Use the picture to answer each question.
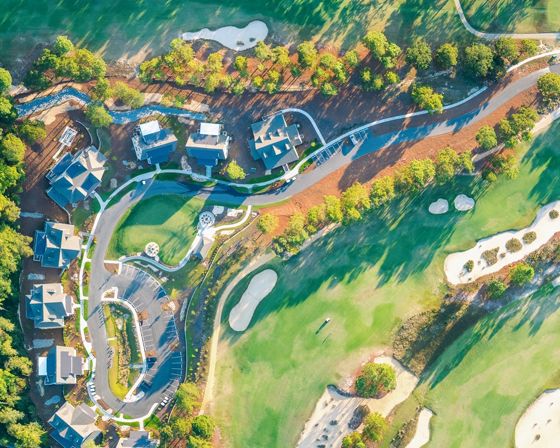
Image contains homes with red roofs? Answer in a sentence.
No, the photo shows no home with a red roof.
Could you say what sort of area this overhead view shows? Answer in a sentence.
The area seen from above is a golf course.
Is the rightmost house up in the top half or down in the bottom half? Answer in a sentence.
The rightmost house is in the top half of the image.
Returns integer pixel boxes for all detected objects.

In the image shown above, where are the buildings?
[49,401,104,448]
[33,223,83,269]
[134,120,175,163]
[245,108,306,170]
[119,428,159,448]
[193,235,214,259]
[40,345,83,385]
[45,147,109,206]
[188,122,229,166]
[24,284,74,329]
